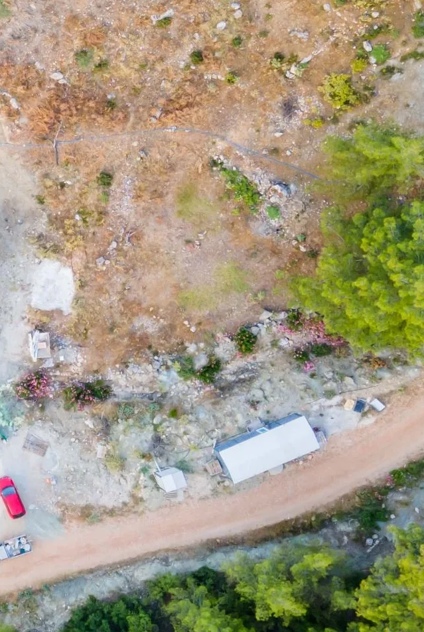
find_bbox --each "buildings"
[157,465,187,493]
[210,414,318,484]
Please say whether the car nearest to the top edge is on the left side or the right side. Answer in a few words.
left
